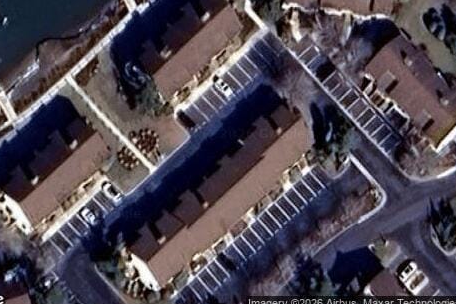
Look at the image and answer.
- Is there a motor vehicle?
Yes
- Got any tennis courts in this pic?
No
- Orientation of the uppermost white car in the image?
at an angle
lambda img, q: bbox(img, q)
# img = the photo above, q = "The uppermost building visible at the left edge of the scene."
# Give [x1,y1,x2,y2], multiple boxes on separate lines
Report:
[6,121,115,236]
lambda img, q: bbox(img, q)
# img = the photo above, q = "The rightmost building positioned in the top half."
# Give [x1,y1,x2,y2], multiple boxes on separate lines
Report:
[363,42,456,154]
